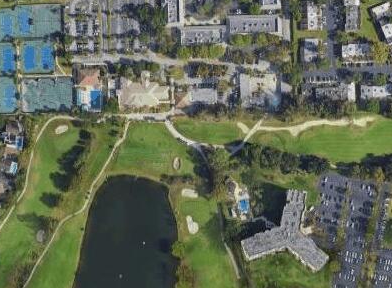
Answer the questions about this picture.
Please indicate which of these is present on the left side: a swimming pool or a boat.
swimming pool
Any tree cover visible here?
Yes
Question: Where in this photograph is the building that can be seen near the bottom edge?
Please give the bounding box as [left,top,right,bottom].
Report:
[240,188,329,274]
